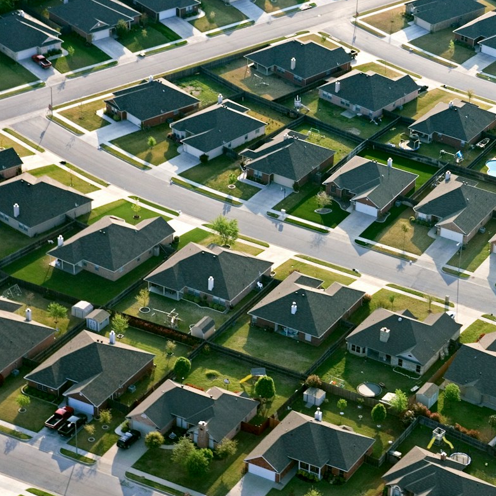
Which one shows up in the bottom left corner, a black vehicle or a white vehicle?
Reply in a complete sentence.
It is a black vehicle that can be seen in the bottom left corner.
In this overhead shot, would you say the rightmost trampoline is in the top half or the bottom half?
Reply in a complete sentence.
The rightmost trampoline sits in the bottom half of the picture.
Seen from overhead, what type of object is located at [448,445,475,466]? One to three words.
trampoline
